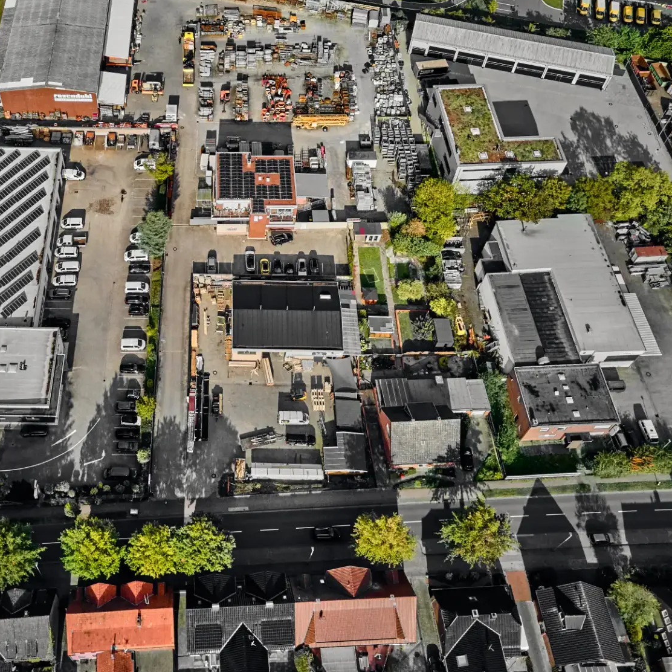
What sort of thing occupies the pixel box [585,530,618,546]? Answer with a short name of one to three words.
car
